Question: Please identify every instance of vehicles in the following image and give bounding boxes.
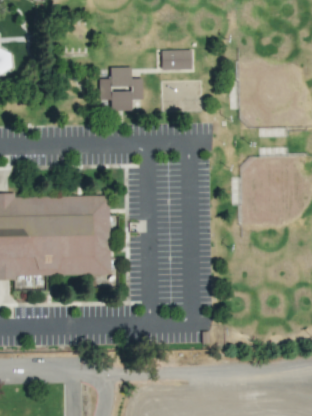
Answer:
[32,358,44,362]
[14,368,24,374]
